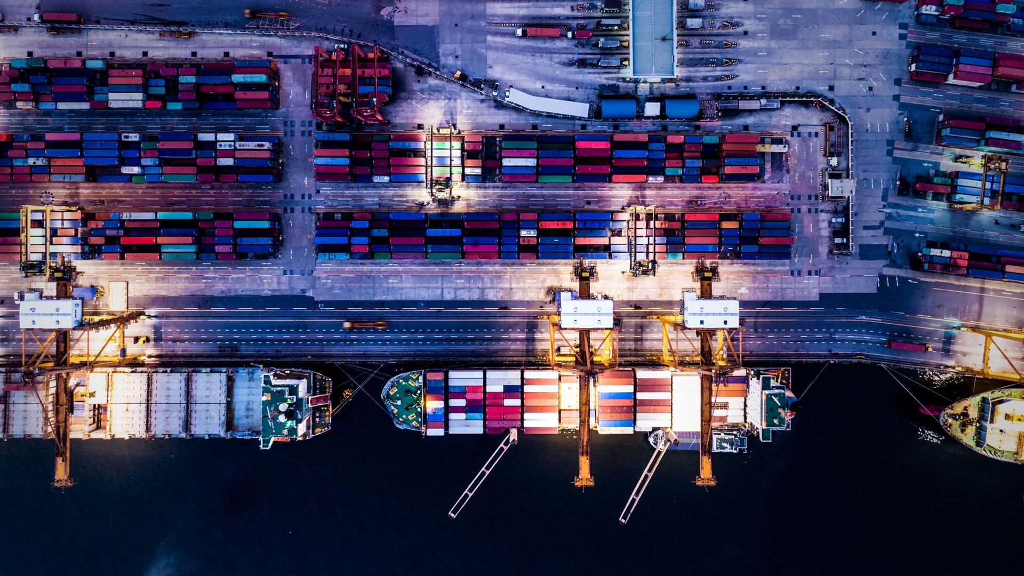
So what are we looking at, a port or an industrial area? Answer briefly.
port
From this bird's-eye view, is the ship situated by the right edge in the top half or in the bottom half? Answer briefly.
bottom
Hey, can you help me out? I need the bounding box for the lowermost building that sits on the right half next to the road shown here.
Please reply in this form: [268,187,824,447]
[826,171,854,201]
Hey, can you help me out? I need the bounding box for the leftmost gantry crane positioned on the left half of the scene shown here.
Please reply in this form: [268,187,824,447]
[26,252,157,495]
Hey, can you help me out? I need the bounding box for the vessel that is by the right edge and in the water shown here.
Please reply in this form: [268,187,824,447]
[918,387,1024,465]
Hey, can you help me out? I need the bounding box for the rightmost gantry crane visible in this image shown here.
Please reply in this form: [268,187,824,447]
[951,325,1024,391]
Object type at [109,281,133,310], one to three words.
shed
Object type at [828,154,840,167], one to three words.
vehicle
